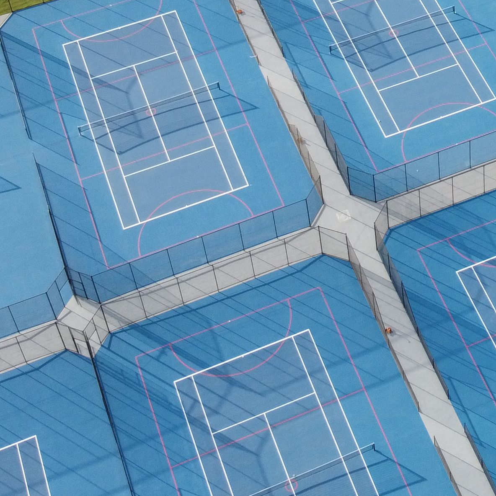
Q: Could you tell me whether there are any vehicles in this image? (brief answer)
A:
No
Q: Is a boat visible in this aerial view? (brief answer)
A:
No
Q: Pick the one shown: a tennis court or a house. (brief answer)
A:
tennis court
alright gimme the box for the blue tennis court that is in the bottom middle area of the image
[92,253,457,496]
